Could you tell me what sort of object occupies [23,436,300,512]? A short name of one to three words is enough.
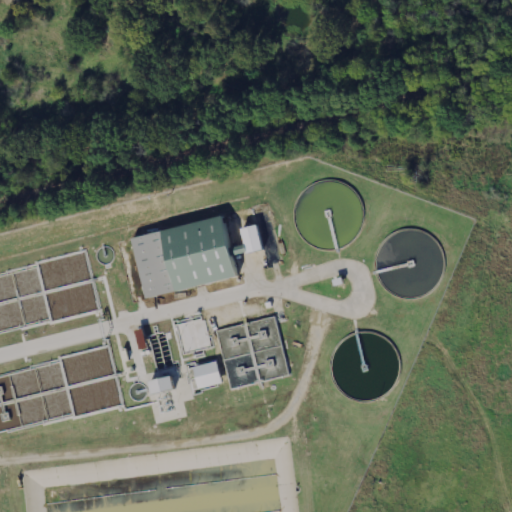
pond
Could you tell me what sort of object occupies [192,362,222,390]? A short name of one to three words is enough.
building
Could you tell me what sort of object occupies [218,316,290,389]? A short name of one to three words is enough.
storage tank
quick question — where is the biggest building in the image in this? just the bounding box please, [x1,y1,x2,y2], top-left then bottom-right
[129,214,238,299]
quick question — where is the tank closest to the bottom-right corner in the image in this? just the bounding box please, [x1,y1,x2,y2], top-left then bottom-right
[332,330,400,401]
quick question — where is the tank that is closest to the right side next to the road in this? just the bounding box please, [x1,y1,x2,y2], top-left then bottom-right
[374,229,446,298]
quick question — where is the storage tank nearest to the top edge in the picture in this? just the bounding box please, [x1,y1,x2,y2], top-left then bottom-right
[294,180,365,254]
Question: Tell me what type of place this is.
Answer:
industrial area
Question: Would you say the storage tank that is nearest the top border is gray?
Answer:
No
